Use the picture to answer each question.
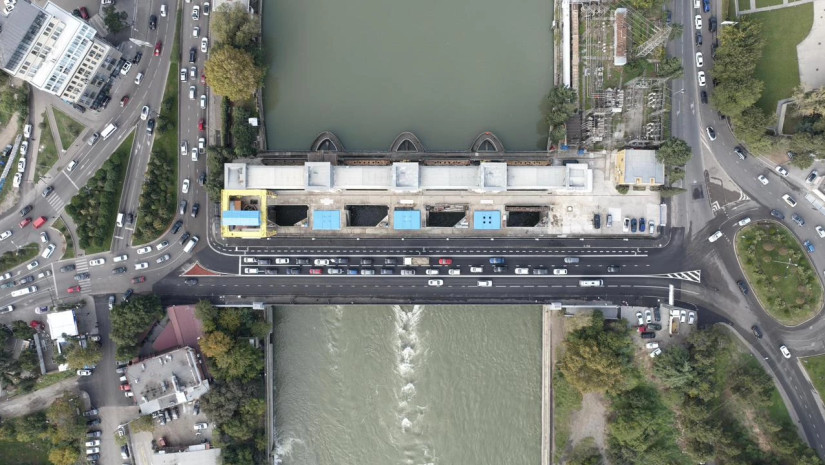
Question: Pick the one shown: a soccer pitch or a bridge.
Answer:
bridge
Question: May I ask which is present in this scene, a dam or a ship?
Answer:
dam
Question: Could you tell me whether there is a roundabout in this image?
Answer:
Yes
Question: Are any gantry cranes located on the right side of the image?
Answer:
No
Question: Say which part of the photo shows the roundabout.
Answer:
right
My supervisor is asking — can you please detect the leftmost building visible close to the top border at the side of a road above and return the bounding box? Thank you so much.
[0,2,127,112]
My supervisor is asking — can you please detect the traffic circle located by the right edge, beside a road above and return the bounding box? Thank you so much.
[736,220,824,327]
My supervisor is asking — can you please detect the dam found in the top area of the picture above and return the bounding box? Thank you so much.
[222,131,670,238]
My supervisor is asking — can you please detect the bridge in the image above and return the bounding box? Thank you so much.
[139,200,705,307]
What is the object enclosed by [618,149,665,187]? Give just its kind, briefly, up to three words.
building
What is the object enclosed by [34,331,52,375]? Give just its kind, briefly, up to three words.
shed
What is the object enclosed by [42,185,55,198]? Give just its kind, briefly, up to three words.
vehicle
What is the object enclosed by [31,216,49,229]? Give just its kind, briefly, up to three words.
vehicle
